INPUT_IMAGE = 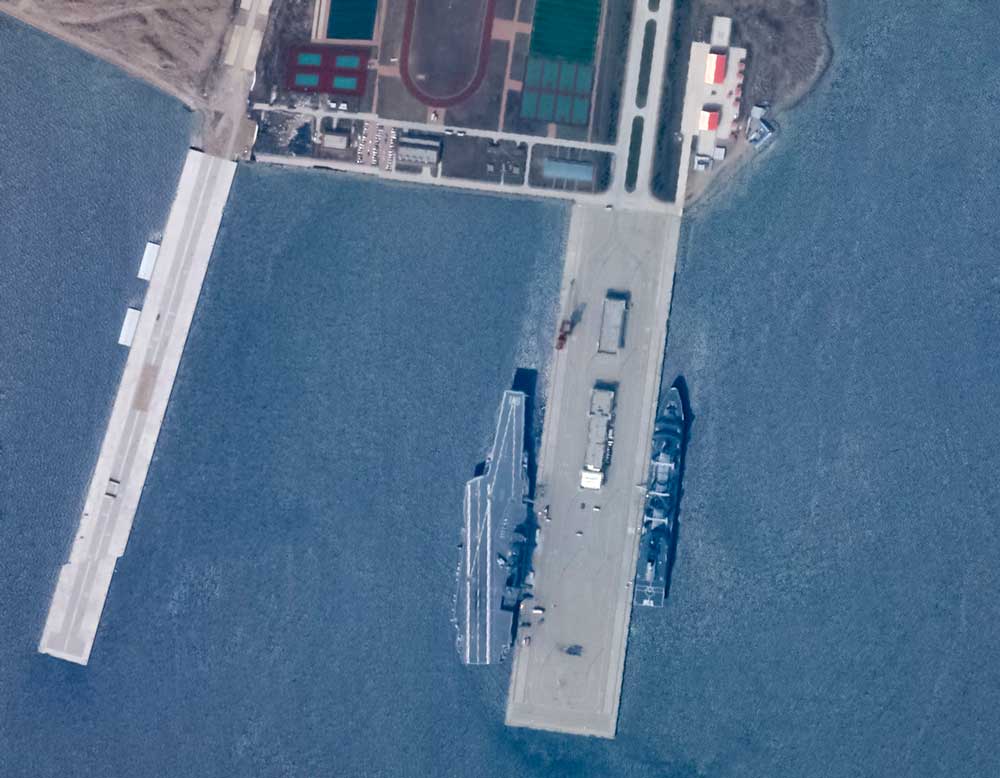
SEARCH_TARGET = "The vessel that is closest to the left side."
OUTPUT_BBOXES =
[451,391,529,664]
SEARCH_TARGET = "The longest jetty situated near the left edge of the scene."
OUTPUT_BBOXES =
[40,147,237,666]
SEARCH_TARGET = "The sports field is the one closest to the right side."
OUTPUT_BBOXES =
[529,0,603,62]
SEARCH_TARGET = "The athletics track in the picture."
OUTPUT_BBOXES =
[401,0,495,107]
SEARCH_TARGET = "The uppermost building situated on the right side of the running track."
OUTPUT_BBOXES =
[711,16,731,47]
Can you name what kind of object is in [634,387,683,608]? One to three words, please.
ship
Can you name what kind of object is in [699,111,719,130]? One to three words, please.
shed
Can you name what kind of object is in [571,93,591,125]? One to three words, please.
sports court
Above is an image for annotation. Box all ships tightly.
[634,387,683,608]
[451,391,529,664]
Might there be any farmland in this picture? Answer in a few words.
No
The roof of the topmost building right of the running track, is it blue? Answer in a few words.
No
